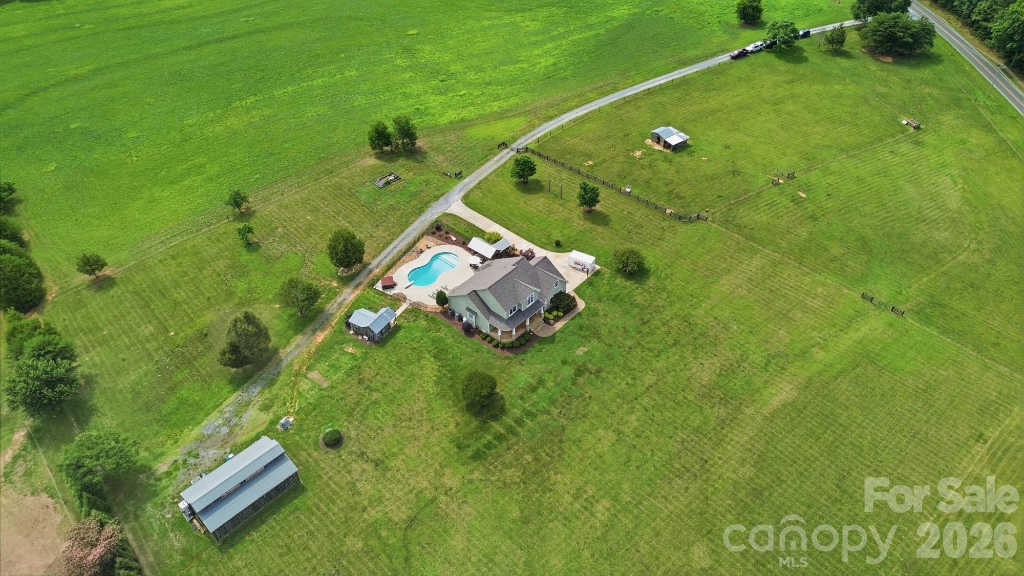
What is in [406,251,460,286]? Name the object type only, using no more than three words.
swimming pool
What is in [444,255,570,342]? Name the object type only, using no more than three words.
house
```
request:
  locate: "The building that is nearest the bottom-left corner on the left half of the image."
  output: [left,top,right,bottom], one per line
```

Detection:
[180,436,301,541]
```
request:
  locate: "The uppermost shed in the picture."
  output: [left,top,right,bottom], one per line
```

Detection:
[651,125,689,151]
